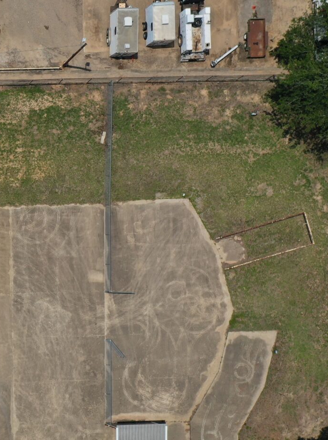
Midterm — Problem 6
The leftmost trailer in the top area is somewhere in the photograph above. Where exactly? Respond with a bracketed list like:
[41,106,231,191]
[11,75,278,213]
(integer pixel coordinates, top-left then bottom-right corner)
[107,5,139,59]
